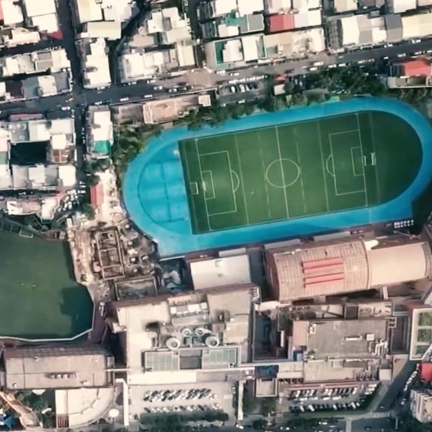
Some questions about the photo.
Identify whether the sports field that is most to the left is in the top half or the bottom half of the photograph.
bottom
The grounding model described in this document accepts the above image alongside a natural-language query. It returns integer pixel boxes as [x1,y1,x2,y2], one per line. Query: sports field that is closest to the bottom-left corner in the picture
[0,228,93,341]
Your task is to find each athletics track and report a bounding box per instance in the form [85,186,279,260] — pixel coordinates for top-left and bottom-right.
[123,97,432,256]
